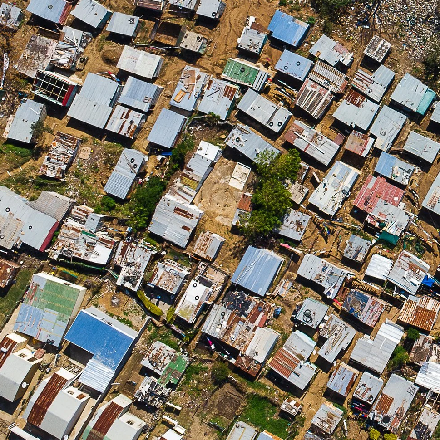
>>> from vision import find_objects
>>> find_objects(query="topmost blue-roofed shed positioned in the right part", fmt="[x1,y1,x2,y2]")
[268,10,311,47]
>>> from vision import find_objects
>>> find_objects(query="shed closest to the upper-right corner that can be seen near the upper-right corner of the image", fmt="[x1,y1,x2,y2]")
[365,35,391,62]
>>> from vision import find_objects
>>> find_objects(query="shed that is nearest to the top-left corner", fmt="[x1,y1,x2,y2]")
[0,2,28,25]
